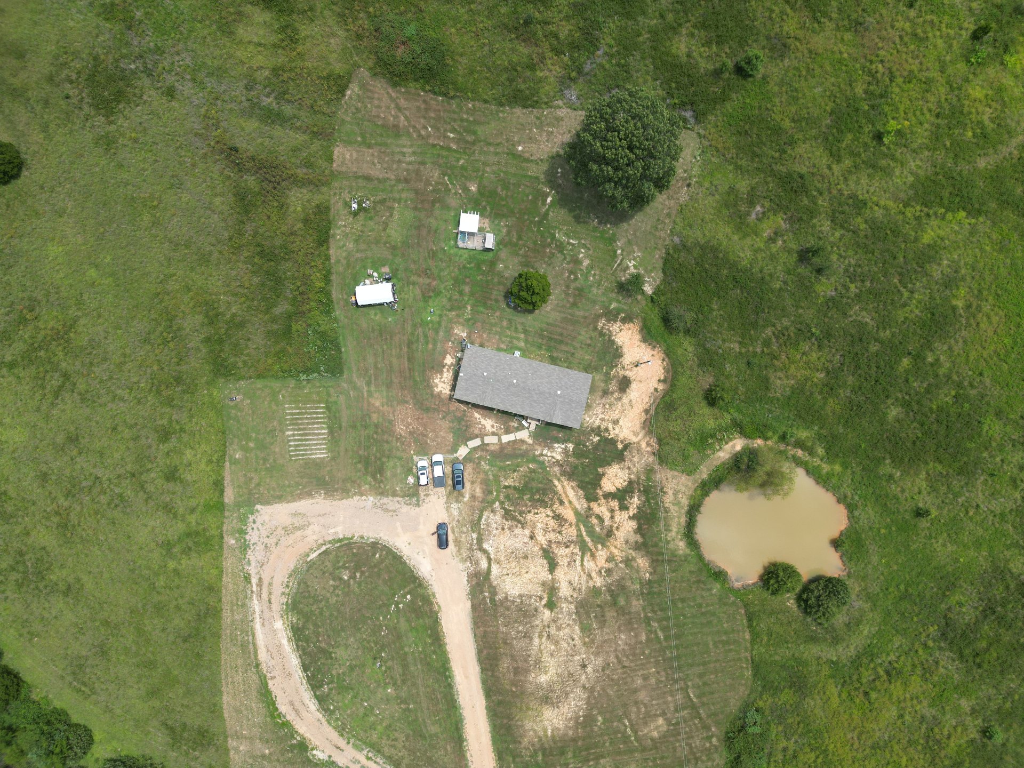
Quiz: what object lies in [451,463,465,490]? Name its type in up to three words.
car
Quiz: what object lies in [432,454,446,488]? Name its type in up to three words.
vehicle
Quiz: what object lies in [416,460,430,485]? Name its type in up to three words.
car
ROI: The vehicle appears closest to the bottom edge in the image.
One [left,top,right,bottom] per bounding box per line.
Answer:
[432,522,449,549]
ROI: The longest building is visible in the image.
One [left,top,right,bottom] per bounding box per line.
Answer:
[453,345,592,428]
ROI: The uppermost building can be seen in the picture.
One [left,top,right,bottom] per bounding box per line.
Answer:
[452,210,495,253]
